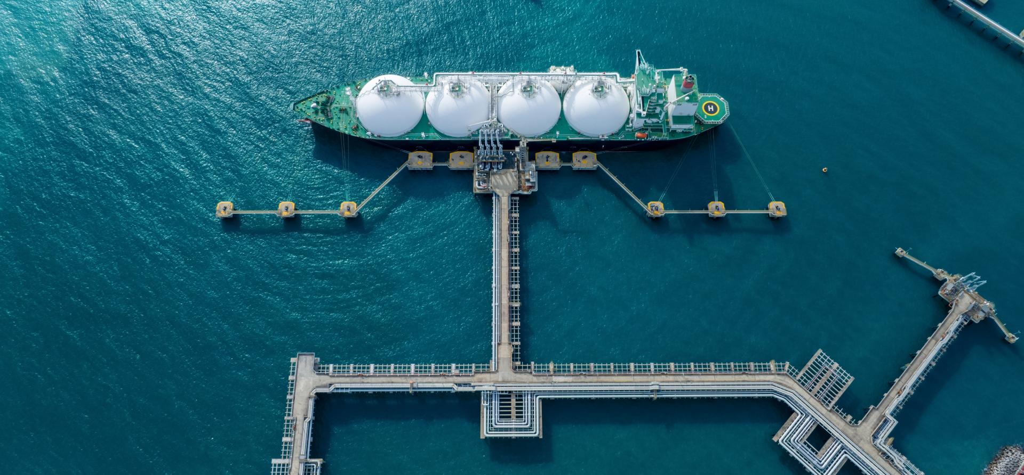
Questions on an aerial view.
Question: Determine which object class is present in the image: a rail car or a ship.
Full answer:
Visible in the photo is a ship.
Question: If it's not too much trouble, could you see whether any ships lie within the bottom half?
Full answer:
No, there's no ship to be seen within the bottom half.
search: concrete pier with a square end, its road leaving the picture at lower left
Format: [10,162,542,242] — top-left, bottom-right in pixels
[269,352,326,475]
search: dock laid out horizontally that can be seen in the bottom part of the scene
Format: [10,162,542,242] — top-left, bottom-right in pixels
[316,359,790,401]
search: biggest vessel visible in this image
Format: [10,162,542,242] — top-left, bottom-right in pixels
[289,50,730,150]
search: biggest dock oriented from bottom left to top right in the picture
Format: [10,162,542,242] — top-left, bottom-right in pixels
[864,292,974,419]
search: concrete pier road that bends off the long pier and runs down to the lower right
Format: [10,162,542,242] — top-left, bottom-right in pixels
[770,366,922,475]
